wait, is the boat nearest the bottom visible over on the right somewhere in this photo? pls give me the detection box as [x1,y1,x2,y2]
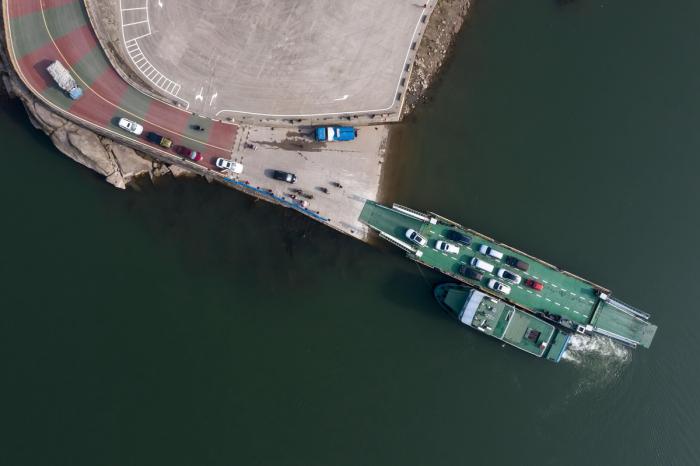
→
[434,284,571,362]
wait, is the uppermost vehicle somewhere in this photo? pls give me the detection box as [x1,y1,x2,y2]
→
[49,63,88,102]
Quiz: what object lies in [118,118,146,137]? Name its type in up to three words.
car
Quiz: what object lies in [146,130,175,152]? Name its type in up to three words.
truck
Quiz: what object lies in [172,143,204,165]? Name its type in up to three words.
truck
